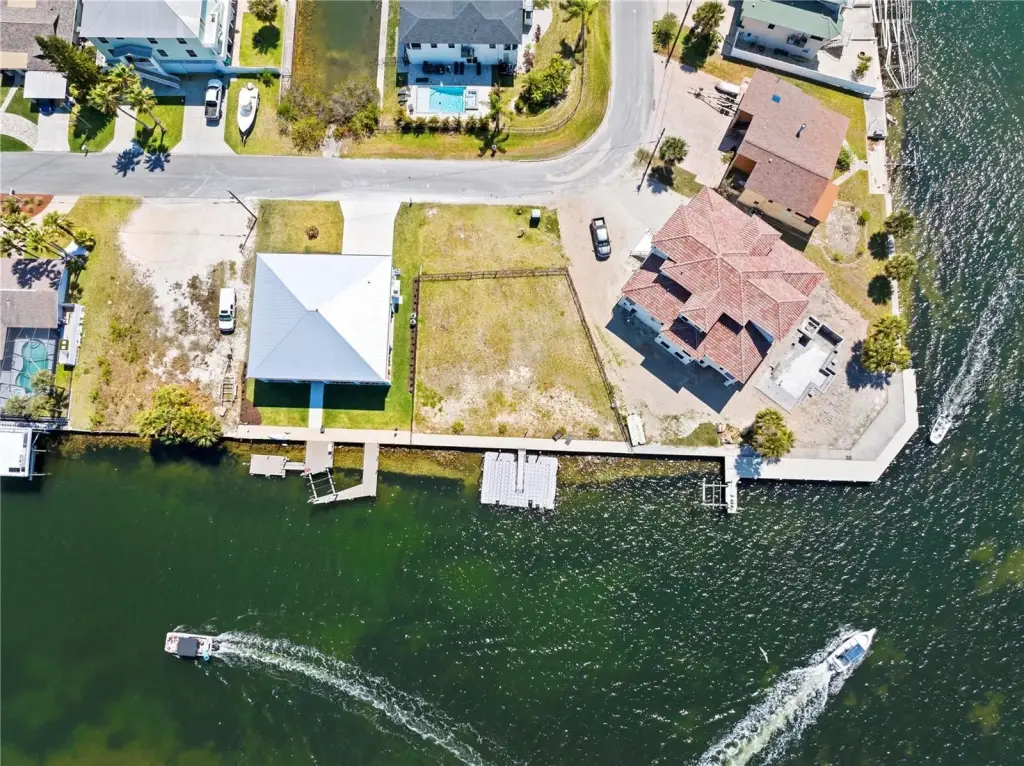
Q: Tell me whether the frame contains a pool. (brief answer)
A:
Yes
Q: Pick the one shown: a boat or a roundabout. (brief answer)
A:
boat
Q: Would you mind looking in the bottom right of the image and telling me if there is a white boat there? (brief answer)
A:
Yes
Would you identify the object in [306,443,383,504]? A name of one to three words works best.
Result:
pier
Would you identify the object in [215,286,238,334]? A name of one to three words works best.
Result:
vehicle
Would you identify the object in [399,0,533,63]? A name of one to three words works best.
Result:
house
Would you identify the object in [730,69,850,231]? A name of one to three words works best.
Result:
house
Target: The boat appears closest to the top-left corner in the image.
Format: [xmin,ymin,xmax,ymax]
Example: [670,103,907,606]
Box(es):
[237,76,255,130]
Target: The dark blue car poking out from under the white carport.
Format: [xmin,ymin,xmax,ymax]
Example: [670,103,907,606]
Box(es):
[36,99,55,115]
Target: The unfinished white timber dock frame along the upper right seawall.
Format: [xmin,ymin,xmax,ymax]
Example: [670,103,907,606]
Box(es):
[877,0,919,95]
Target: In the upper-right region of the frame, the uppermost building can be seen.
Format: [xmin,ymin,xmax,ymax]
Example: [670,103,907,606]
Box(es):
[732,0,849,60]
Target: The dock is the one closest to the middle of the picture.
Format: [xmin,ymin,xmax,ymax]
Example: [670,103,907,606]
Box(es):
[480,452,557,509]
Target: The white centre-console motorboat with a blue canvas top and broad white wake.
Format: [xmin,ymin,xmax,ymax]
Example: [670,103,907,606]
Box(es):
[823,631,876,676]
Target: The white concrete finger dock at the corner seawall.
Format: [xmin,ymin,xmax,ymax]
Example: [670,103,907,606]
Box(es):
[722,459,739,513]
